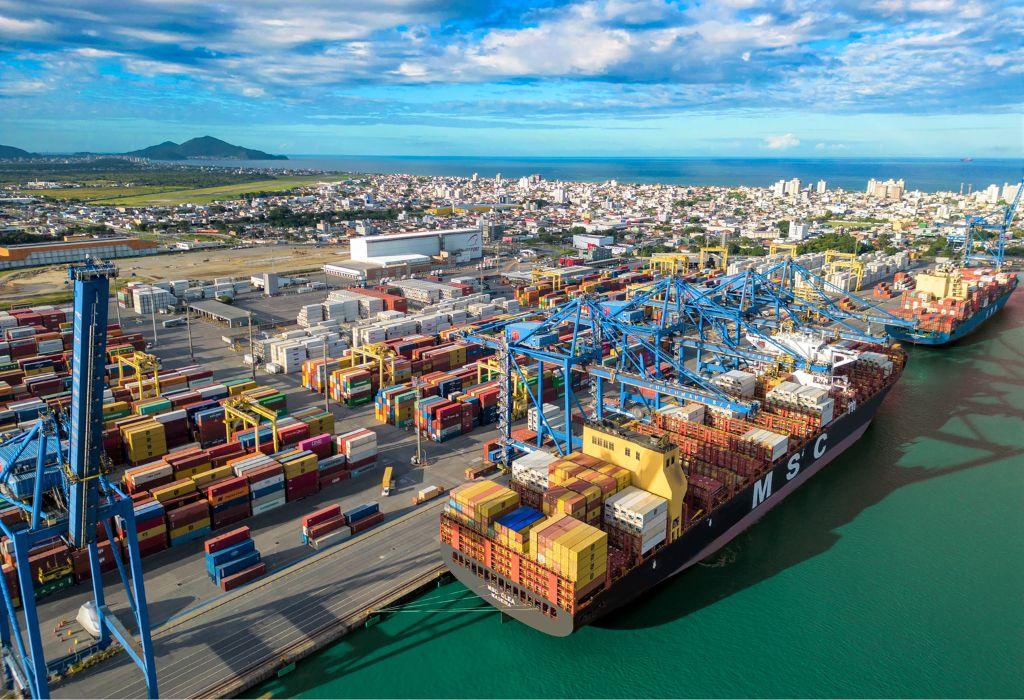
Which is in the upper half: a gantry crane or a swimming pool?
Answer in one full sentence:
Looking in the upper half, you will find a gantry crane.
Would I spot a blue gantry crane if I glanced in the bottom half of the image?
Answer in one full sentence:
Yes, a blue gantry crane shows up in the bottom half of the image.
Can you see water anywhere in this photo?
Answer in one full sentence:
Yes, water shows up in the scene.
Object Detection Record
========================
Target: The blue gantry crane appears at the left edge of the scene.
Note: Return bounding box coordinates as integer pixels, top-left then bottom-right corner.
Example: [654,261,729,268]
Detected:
[0,253,178,700]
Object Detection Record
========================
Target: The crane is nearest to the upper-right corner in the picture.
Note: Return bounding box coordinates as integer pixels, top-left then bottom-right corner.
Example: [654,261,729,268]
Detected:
[936,185,1024,269]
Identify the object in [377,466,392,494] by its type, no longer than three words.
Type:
vehicle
